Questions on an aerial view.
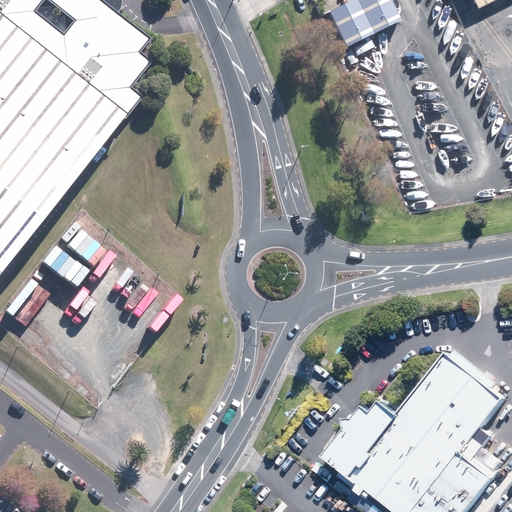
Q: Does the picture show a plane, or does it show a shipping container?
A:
shipping container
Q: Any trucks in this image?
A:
Yes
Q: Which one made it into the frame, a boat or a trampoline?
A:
boat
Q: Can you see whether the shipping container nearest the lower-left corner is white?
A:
Yes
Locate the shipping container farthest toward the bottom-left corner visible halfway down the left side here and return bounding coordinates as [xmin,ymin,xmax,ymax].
[6,278,38,316]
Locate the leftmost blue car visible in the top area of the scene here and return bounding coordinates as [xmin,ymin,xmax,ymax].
[94,146,106,162]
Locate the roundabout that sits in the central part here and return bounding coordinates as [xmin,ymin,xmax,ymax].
[248,245,305,302]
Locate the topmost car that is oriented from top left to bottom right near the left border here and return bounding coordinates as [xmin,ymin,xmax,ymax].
[9,402,25,416]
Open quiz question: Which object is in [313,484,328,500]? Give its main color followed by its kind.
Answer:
white vehicle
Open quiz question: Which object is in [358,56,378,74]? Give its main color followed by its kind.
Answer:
white boat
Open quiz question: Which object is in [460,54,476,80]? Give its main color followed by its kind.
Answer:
white boat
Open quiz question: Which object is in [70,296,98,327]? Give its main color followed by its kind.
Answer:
white truck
